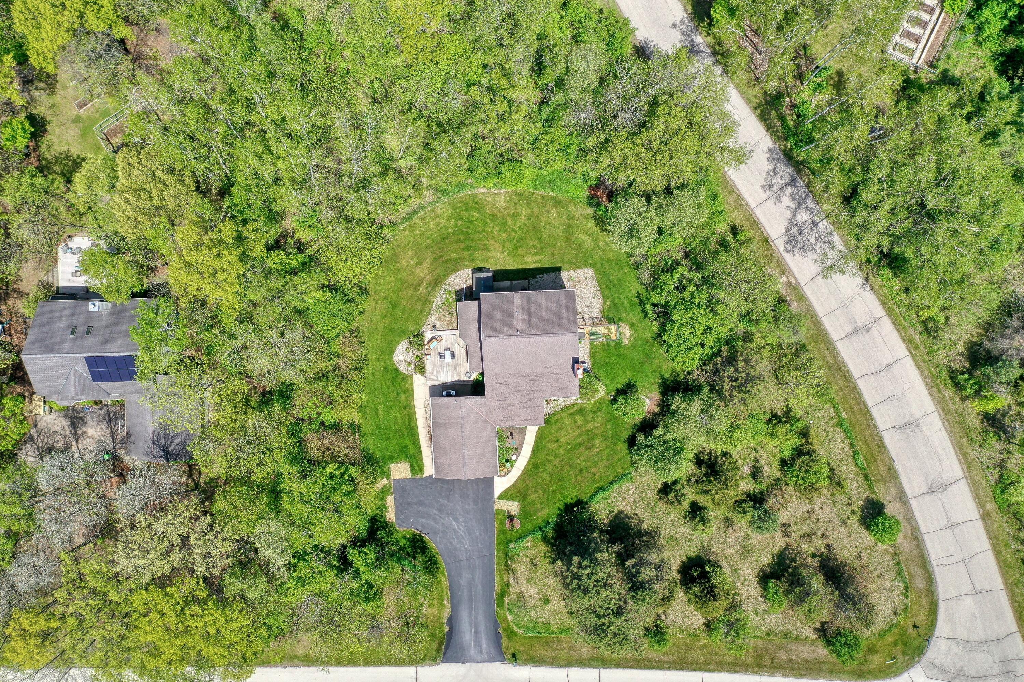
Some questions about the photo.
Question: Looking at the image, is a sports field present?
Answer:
No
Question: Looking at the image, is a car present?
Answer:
No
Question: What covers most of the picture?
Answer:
trees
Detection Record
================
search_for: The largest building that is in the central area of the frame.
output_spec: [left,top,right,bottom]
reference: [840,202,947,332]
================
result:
[429,288,584,481]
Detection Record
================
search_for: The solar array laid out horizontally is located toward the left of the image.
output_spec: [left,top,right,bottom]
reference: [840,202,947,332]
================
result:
[85,356,154,382]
